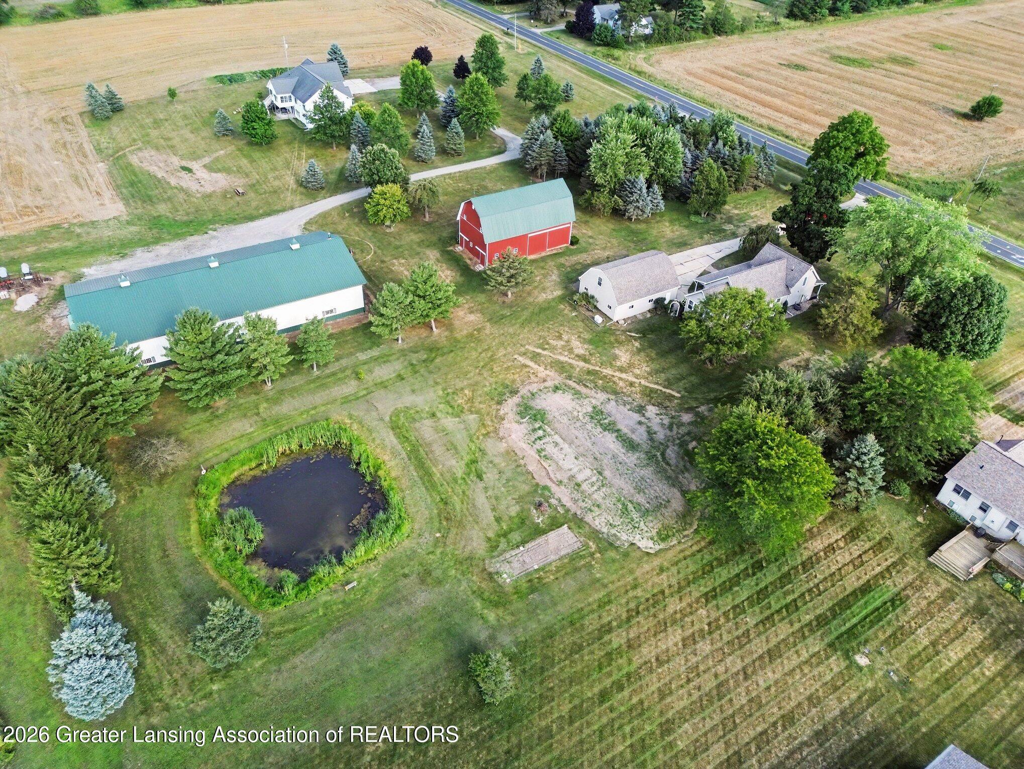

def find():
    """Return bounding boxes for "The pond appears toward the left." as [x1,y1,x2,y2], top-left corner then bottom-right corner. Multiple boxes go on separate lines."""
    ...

[217,450,387,585]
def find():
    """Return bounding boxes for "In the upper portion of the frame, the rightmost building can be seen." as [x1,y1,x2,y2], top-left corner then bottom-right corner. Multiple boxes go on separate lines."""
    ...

[684,241,829,316]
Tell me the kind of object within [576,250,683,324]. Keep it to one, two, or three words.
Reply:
building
